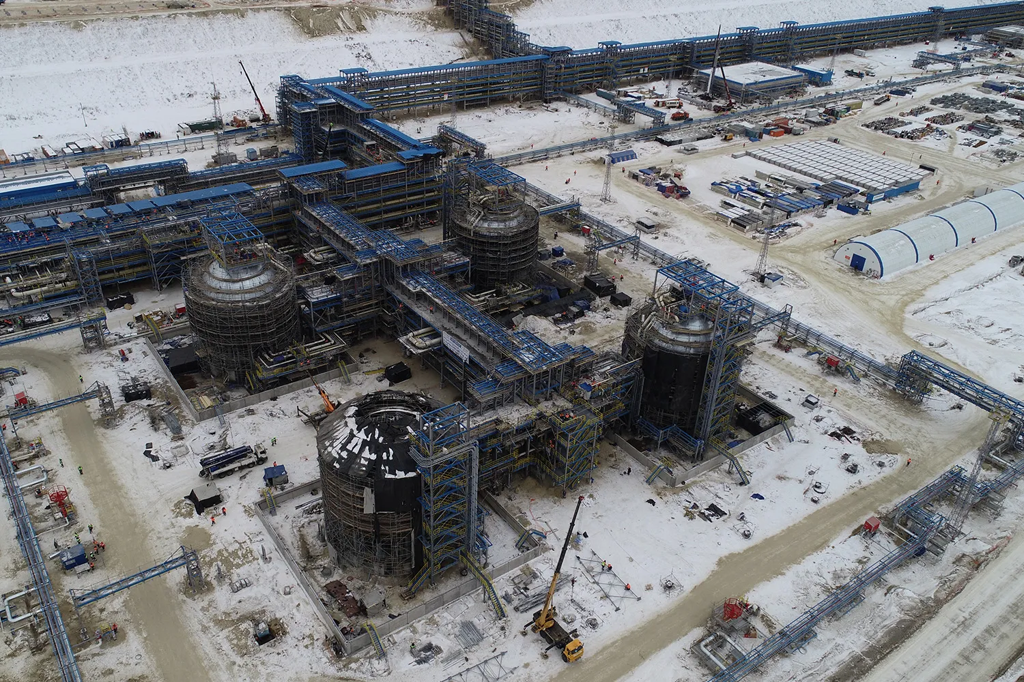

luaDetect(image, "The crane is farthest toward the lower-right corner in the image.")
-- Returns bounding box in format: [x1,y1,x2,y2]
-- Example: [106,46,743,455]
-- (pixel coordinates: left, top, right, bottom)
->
[520,495,590,669]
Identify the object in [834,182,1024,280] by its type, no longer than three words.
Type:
hangar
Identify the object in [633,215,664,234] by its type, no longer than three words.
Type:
shed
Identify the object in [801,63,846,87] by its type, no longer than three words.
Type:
building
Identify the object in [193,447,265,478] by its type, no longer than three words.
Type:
truck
